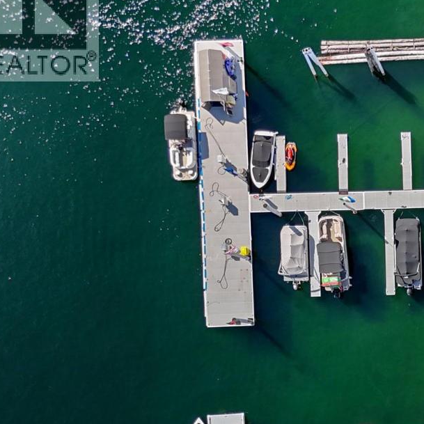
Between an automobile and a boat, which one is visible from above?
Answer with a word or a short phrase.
boat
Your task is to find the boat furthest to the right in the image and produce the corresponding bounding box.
[395,209,424,297]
